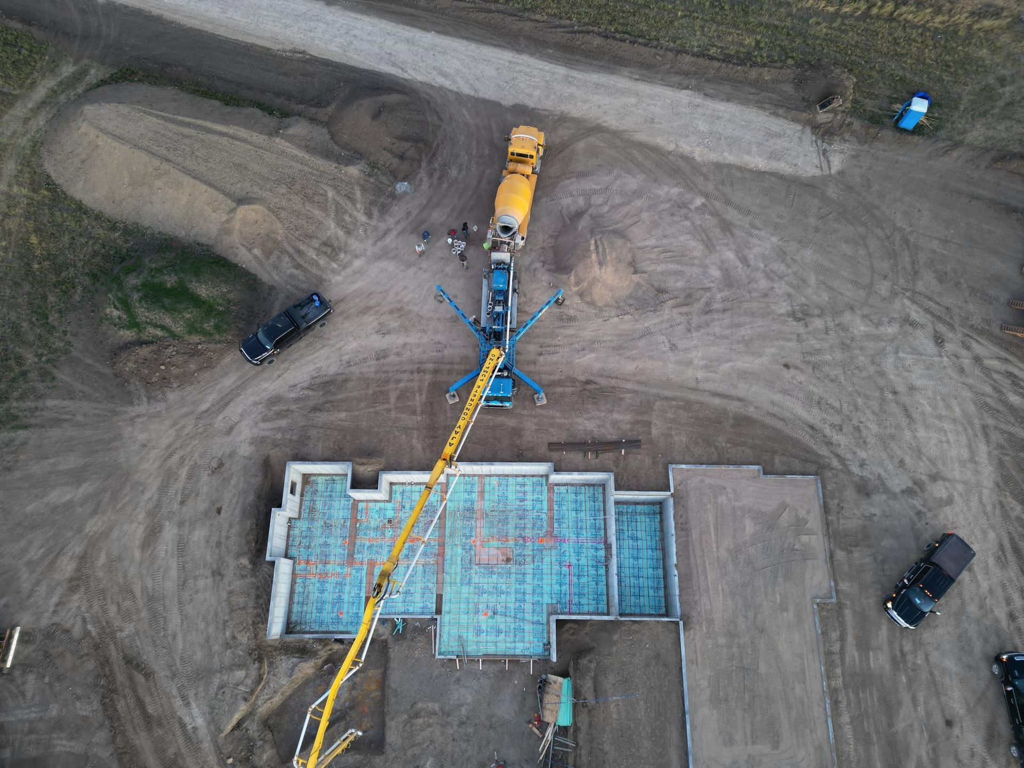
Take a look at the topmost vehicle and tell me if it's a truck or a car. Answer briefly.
truck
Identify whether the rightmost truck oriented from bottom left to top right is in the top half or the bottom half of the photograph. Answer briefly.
bottom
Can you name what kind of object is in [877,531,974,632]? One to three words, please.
truck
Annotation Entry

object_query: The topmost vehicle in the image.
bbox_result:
[488,129,547,255]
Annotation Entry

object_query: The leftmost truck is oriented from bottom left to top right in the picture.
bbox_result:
[243,291,340,369]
